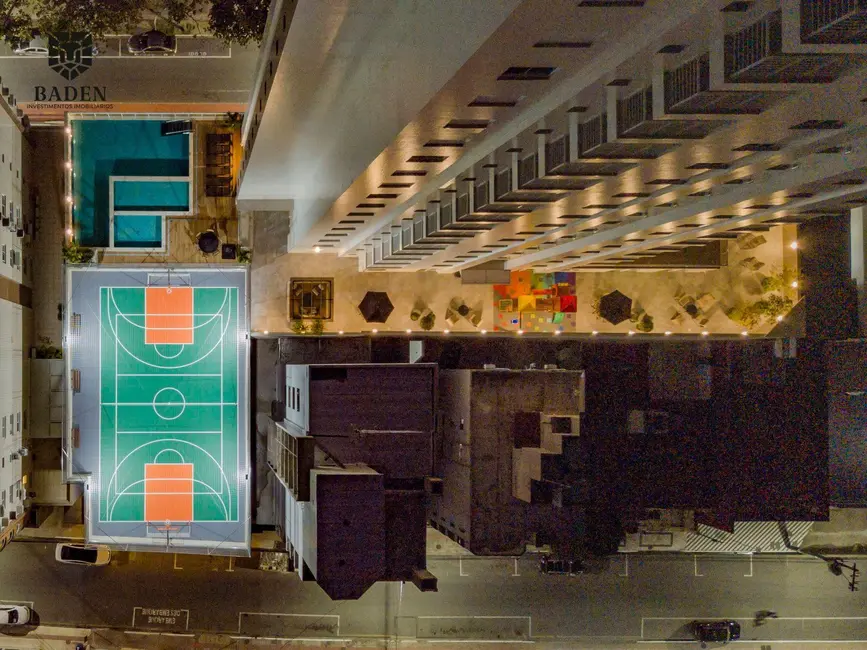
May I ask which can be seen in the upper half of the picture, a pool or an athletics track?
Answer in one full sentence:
What appears in the upper half of the picture is a pool.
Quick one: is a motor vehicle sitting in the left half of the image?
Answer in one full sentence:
Yes, the scene does show a motor vehicle in the left half of the image.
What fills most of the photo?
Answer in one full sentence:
For the most part, this view shows buildings.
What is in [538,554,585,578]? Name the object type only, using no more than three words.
car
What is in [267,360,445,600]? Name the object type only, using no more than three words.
house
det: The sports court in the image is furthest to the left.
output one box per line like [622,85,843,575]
[69,267,246,546]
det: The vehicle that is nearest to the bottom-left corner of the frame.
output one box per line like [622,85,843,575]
[0,602,31,628]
